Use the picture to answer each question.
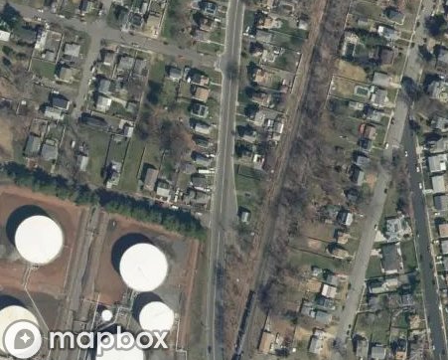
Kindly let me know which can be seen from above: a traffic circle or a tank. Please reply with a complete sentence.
Of the two, only a tank appears.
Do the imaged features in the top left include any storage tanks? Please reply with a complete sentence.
No, I see no storage tank in the top left.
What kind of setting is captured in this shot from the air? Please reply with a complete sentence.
It's a residential area.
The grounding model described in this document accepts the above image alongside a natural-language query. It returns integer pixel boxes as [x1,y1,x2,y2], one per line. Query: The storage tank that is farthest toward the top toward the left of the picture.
[14,216,63,264]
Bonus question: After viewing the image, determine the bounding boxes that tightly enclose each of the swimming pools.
[354,85,370,98]
[344,41,356,55]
